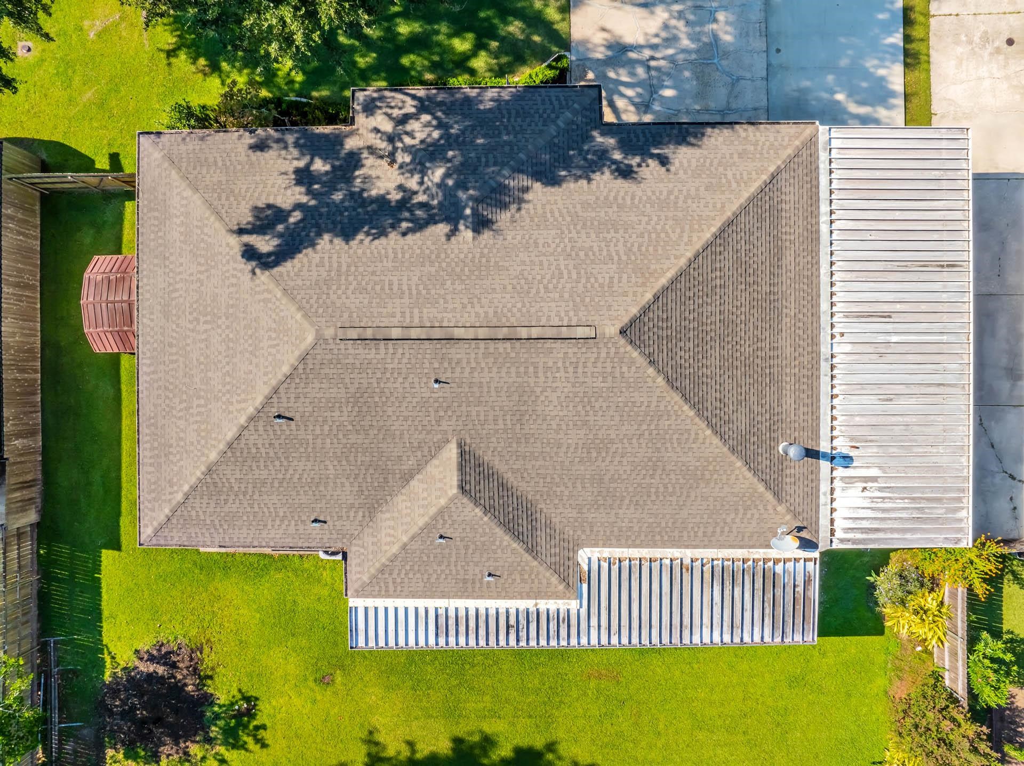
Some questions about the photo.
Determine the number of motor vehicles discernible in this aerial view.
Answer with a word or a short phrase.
none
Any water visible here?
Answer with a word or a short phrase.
No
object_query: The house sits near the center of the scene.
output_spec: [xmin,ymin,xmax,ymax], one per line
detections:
[134,85,821,601]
